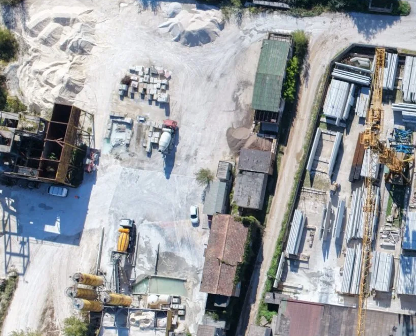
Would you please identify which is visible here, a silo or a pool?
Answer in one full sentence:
There is a silo in the scene.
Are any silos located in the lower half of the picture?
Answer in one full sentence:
Yes, looking in the lower half of the picture, one can make out a silo.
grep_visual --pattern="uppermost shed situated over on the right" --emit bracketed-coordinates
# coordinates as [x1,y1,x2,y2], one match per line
[252,32,297,131]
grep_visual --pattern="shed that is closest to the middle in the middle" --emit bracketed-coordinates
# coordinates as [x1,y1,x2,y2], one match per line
[216,160,237,182]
